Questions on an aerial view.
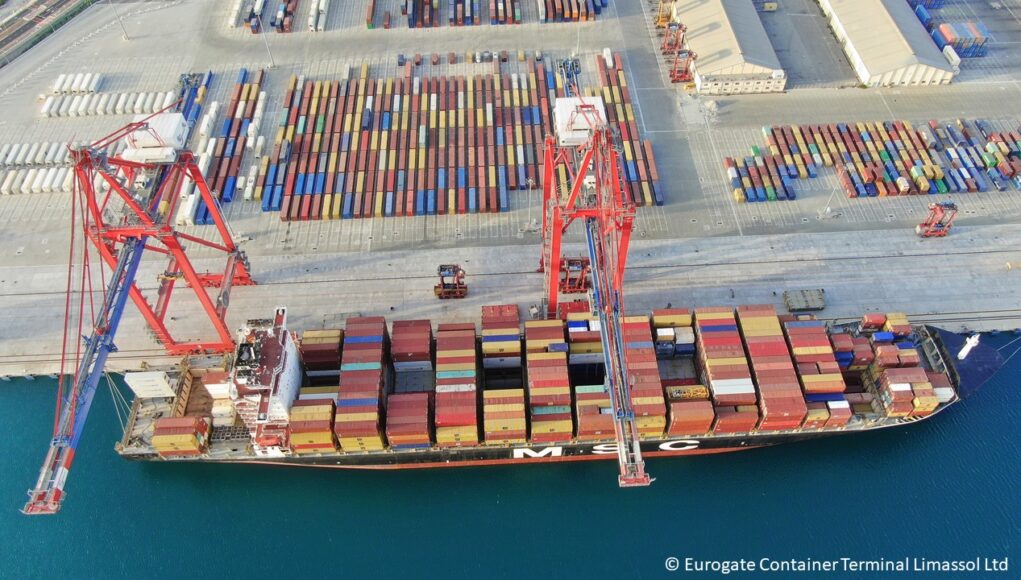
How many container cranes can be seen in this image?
2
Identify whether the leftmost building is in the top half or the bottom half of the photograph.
top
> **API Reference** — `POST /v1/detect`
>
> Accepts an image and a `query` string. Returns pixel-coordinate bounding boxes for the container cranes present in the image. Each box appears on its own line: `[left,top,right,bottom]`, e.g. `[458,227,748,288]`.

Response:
[533,95,651,480]
[28,109,262,509]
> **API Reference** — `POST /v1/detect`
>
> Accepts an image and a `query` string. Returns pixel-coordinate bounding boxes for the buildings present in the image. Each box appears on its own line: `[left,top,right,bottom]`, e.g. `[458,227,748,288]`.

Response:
[822,0,955,87]
[674,0,788,96]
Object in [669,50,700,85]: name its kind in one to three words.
work vehicle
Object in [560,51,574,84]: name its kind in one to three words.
vehicle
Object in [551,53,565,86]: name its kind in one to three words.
vehicle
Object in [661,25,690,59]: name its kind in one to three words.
work vehicle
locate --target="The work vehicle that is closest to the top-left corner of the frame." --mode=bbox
[178,70,199,98]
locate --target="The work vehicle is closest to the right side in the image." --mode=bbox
[918,201,964,236]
